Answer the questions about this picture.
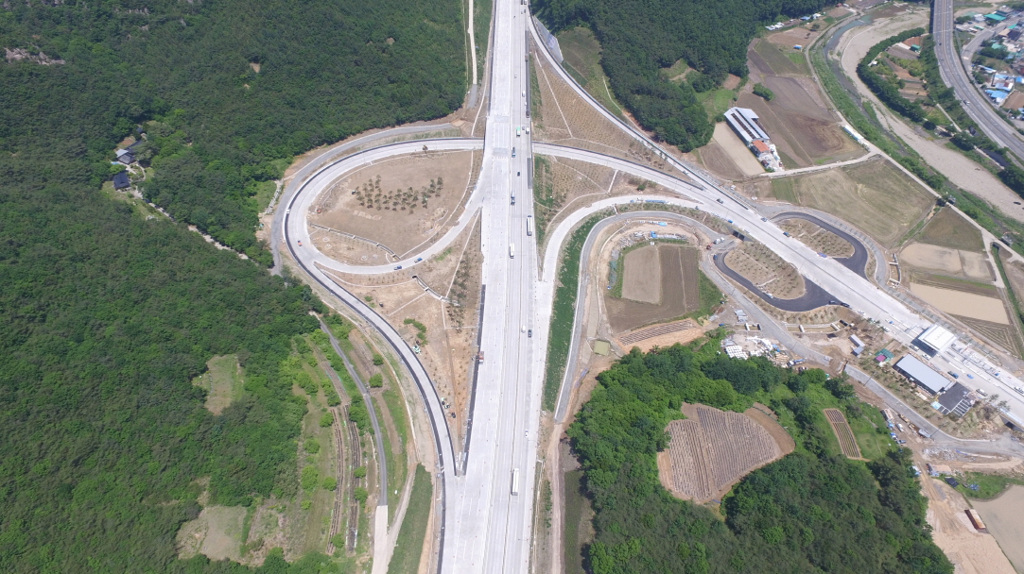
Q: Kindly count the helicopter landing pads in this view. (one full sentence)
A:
The picture shows no helicopter landing pads.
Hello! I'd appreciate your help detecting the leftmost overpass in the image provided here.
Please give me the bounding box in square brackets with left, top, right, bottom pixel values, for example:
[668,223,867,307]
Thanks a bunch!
[483,115,533,157]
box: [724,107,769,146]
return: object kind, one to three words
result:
shed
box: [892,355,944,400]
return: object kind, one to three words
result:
building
